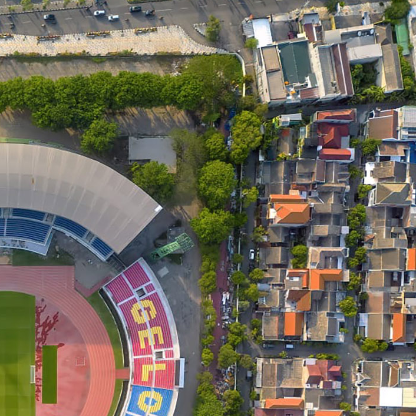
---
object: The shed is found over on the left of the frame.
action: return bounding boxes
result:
[126,138,176,161]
